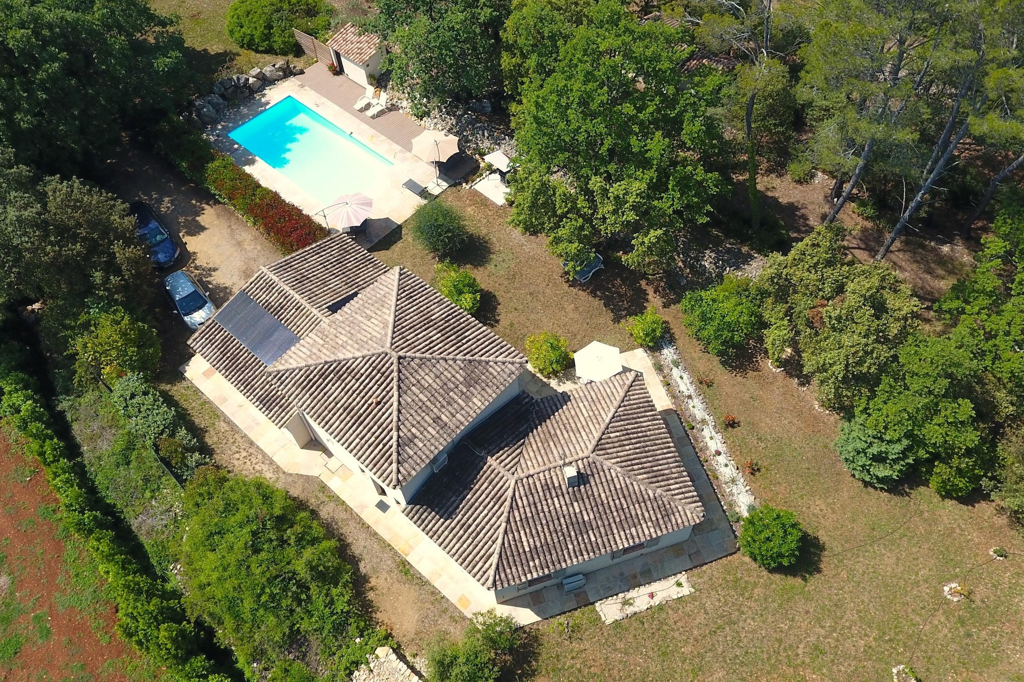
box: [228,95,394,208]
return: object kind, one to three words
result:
swimming pool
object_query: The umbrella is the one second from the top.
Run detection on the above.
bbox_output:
[313,195,373,231]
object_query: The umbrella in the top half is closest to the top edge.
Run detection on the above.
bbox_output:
[410,133,460,190]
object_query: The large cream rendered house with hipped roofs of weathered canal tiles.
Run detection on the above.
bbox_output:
[188,230,706,604]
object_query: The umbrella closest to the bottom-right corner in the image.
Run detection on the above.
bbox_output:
[575,342,622,387]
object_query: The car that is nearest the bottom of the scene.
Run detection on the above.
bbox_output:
[158,266,211,330]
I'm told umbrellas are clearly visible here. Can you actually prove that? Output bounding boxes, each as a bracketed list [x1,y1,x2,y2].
[575,342,622,387]
[313,195,373,231]
[410,133,460,190]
